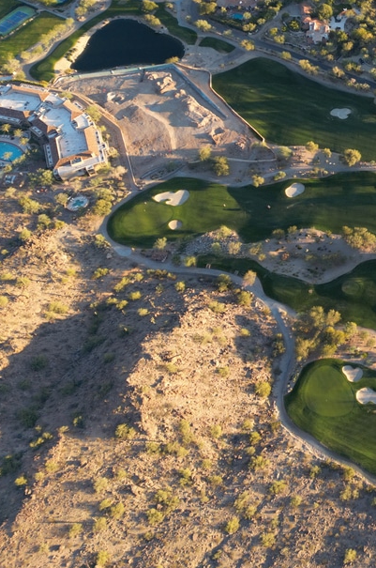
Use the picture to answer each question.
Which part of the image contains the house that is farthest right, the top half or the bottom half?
top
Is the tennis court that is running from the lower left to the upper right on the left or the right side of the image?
left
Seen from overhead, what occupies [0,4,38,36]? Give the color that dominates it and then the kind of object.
blue tennis court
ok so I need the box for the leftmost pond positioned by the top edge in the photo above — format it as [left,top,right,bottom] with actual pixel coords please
[70,20,184,72]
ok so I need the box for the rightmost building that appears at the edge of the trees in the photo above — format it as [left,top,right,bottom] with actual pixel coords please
[300,5,330,48]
